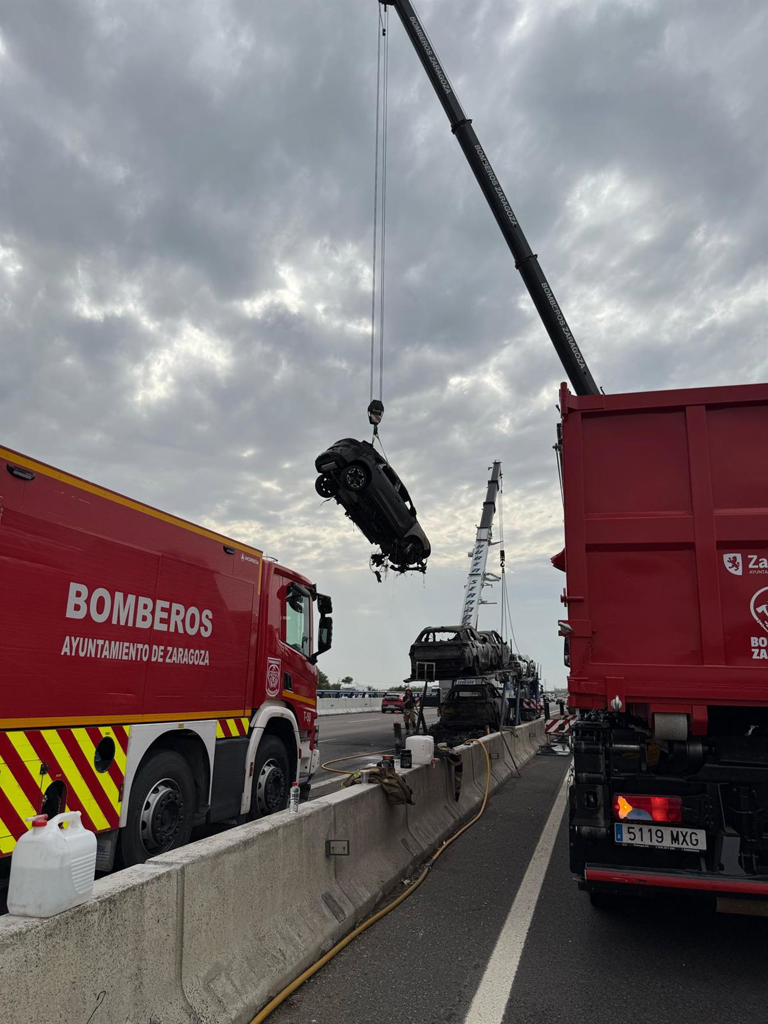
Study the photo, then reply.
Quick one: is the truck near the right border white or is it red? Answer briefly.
red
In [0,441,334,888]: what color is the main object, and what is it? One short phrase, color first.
red truck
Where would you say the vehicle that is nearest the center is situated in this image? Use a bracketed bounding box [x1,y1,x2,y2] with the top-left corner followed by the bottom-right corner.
[307,440,438,599]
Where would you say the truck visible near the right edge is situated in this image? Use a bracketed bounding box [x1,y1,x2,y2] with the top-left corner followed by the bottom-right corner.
[555,379,768,909]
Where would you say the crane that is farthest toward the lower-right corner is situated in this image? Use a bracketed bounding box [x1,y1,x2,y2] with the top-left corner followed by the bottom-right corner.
[414,451,539,722]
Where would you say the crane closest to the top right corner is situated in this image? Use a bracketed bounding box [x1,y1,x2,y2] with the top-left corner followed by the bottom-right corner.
[365,0,600,469]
